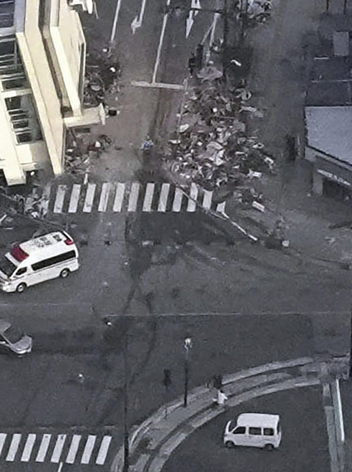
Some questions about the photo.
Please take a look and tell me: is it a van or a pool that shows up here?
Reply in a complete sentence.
I can see a van in this picture.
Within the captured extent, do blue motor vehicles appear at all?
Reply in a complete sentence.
No, no blue motor vehicle is visible in the scene.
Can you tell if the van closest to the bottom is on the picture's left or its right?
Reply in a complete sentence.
You can find the van closest to the bottom on the right side of the picture.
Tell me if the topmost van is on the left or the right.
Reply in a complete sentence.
The topmost van is on the left side of the image.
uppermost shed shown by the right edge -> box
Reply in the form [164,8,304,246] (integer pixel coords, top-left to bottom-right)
[303,63,352,107]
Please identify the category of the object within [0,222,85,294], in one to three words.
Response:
van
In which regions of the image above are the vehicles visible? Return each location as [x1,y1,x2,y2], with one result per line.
[0,222,85,294]
[223,410,282,451]
[0,317,40,359]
